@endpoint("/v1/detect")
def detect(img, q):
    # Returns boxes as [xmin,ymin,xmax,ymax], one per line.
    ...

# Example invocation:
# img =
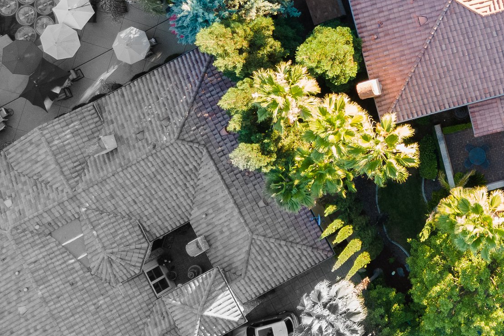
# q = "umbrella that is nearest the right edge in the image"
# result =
[115,27,156,63]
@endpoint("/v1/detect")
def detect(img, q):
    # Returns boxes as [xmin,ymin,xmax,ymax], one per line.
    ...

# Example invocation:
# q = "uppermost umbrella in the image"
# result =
[59,0,101,34]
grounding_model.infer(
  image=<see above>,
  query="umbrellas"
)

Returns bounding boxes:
[115,27,156,63]
[24,69,70,109]
[59,0,101,34]
[43,22,88,61]
[4,38,51,76]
